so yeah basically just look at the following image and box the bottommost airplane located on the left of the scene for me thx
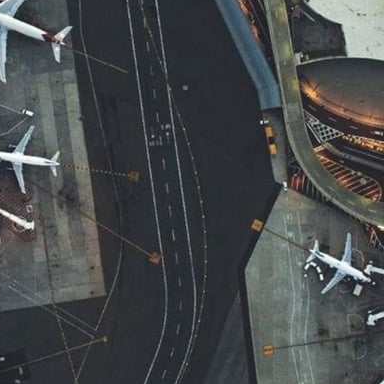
[0,124,62,194]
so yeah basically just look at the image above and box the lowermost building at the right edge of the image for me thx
[296,58,384,123]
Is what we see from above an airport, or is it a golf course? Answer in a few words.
airport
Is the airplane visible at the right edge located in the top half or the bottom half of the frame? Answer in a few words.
bottom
